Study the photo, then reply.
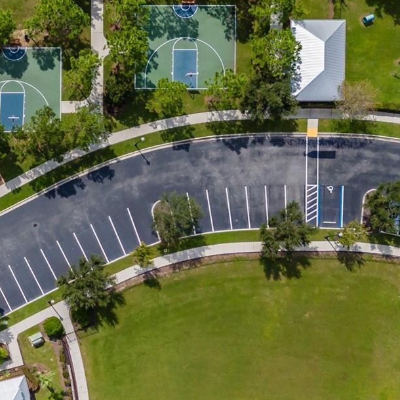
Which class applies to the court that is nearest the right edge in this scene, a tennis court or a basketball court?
basketball court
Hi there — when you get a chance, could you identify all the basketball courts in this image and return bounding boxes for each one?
[0,47,61,132]
[134,5,235,89]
